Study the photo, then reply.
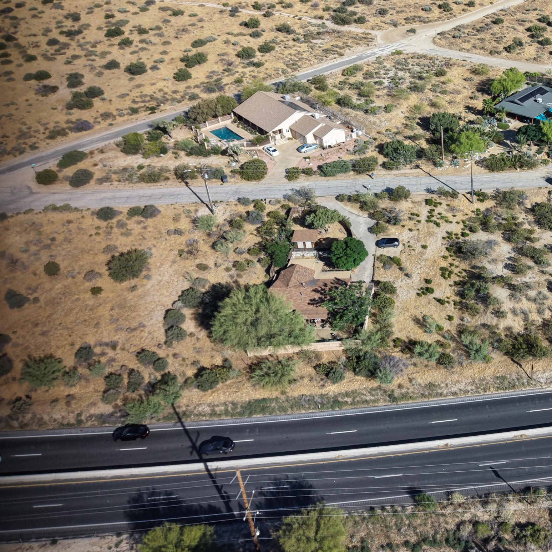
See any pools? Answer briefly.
Yes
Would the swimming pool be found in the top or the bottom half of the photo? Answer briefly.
top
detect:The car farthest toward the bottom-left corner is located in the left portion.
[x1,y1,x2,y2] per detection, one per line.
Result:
[109,427,148,443]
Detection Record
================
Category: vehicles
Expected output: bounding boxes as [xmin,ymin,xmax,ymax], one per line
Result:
[375,236,399,247]
[264,145,279,154]
[109,427,148,443]
[298,143,317,152]
[519,116,534,122]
